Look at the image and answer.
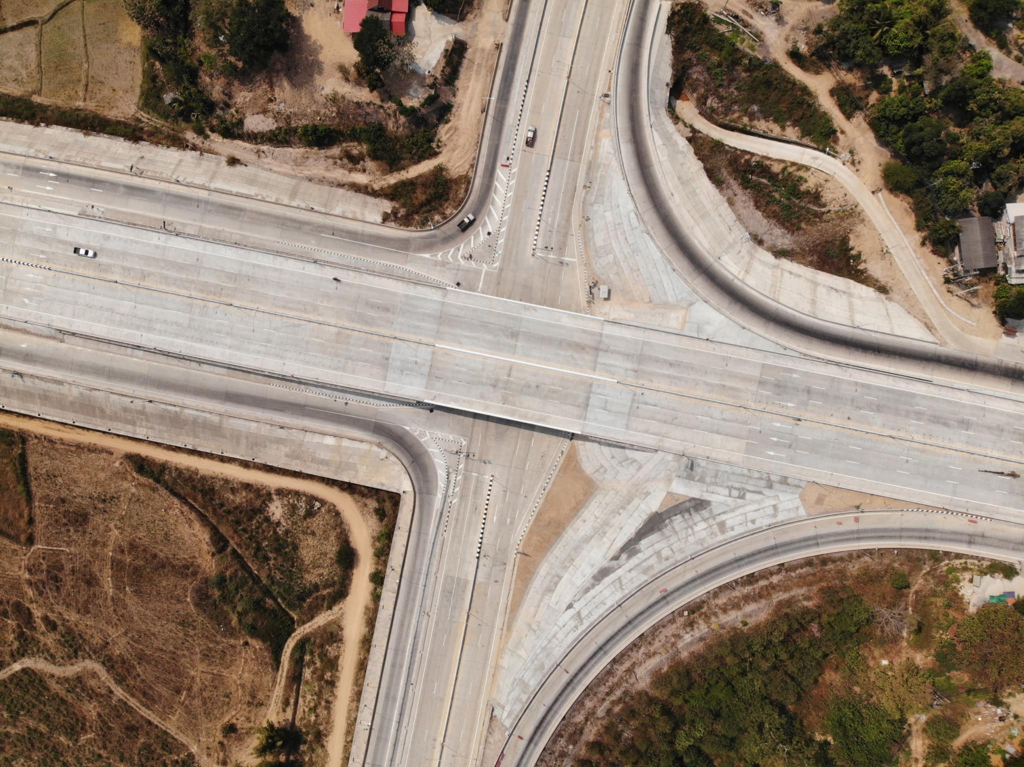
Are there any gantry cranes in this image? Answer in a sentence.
No, the frame has no gantry crane in it.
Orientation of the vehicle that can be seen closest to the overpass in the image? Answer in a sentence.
The vehicle that can be seen closest to the overpass runs diagonally in the image.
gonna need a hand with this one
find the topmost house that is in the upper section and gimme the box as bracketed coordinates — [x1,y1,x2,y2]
[343,0,408,39]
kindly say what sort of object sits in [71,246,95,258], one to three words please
vehicle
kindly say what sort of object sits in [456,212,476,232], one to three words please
vehicle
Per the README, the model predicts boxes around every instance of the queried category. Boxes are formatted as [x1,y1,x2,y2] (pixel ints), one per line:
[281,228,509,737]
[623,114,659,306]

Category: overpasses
[423,287,615,434]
